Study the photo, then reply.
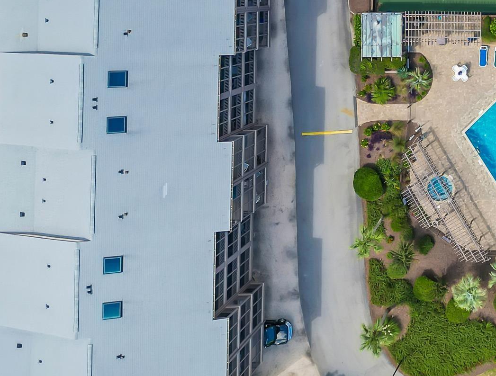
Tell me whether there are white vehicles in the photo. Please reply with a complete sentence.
No, the photo shows no white vehicle.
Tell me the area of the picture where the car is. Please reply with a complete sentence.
You can find the car in the bottom area of the picture.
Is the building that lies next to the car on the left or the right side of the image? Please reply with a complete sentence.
You can find the building that lies next to the car on the left side of the picture.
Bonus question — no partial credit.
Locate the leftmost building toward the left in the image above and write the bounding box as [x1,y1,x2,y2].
[0,0,275,376]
